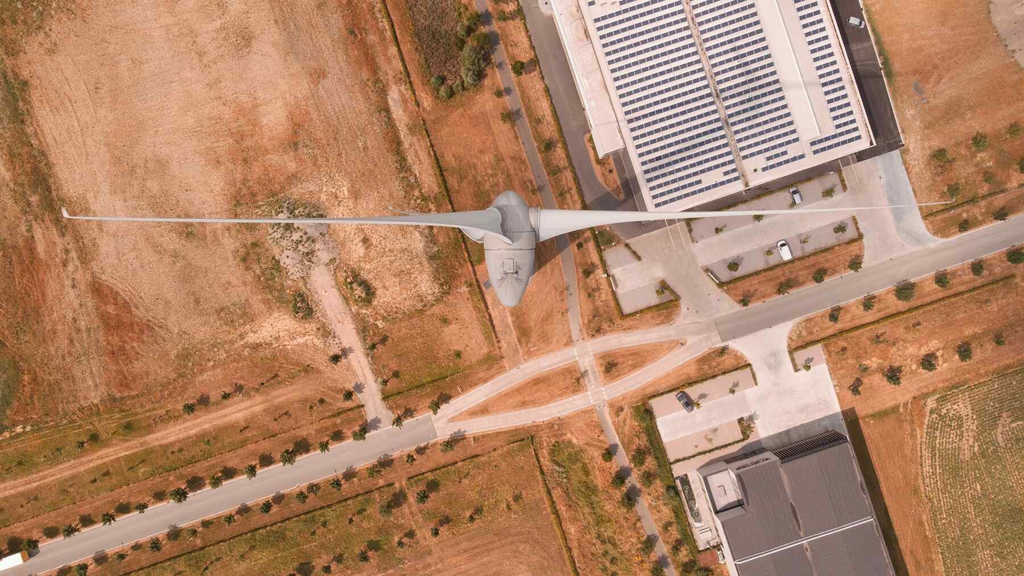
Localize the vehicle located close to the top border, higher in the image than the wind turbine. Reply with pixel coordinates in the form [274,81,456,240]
[845,15,866,30]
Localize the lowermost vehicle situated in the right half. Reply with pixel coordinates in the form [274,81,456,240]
[676,390,694,413]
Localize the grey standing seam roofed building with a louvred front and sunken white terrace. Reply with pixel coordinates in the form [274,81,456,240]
[696,431,893,576]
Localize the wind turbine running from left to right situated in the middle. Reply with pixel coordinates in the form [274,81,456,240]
[63,191,948,307]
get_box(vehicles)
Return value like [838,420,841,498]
[0,548,40,572]
[676,390,694,413]
[777,239,793,262]
[845,15,866,30]
[788,185,803,207]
